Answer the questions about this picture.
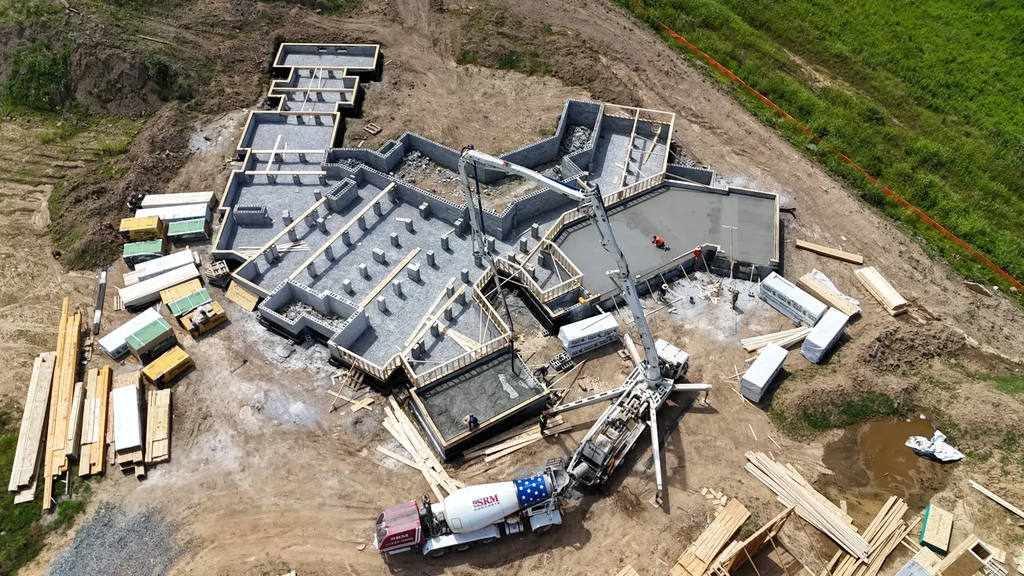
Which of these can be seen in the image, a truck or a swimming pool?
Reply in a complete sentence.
It is a truck that can be seen here.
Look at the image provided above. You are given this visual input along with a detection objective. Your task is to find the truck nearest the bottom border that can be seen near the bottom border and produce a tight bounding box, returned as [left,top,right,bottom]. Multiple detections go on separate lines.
[370,452,585,565]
